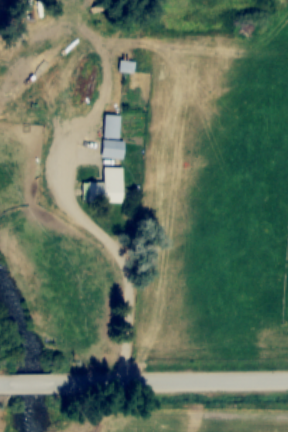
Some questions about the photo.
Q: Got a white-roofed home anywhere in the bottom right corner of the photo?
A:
No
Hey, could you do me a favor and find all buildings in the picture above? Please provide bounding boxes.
[120,60,136,72]
[84,167,126,202]
[103,139,126,159]
[105,114,122,138]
